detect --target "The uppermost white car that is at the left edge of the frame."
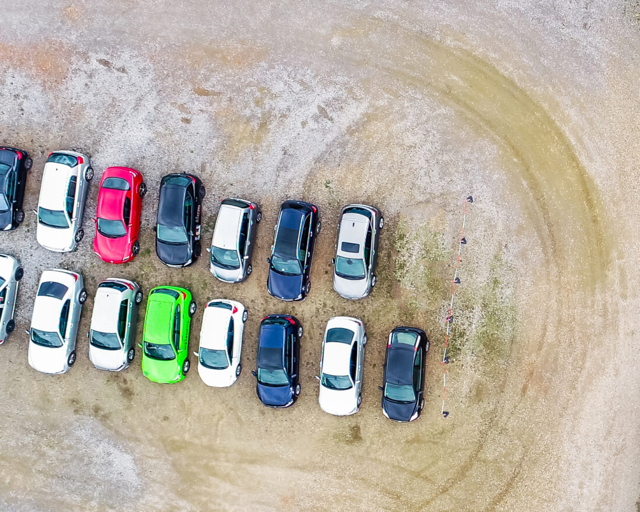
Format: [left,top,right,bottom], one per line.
[29,148,93,254]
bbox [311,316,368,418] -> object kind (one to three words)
car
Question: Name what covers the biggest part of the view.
paved ground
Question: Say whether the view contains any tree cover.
No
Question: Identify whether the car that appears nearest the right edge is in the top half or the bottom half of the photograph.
bottom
